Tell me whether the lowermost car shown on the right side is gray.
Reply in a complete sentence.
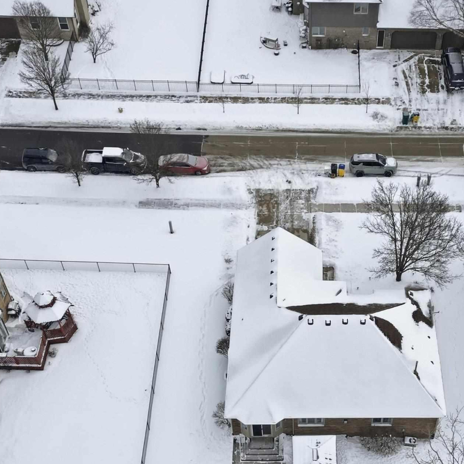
Yes, the lowermost car shown on the right side appears gray.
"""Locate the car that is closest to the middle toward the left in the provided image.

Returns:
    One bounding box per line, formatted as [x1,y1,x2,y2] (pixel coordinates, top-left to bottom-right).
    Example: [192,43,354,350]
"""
[157,150,209,174]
